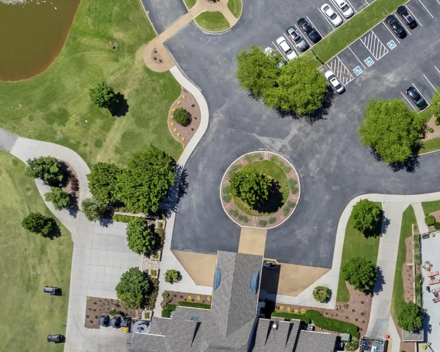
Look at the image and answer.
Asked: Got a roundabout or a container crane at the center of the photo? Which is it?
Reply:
roundabout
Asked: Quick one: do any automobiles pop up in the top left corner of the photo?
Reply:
No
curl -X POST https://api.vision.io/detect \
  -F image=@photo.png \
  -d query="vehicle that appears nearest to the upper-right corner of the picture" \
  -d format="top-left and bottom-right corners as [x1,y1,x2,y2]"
[397,5,418,31]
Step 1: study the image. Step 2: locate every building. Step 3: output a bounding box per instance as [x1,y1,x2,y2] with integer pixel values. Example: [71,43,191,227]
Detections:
[129,251,350,352]
[402,323,424,341]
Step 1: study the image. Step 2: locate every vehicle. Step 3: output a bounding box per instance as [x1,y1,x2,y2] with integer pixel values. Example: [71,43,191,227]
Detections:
[110,315,122,327]
[276,36,298,61]
[320,2,342,28]
[263,45,284,71]
[406,85,427,110]
[333,0,353,19]
[121,316,131,328]
[299,17,320,43]
[385,14,407,39]
[49,333,65,342]
[45,287,61,294]
[286,27,308,52]
[326,70,346,95]
[397,5,418,31]
[99,314,111,326]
